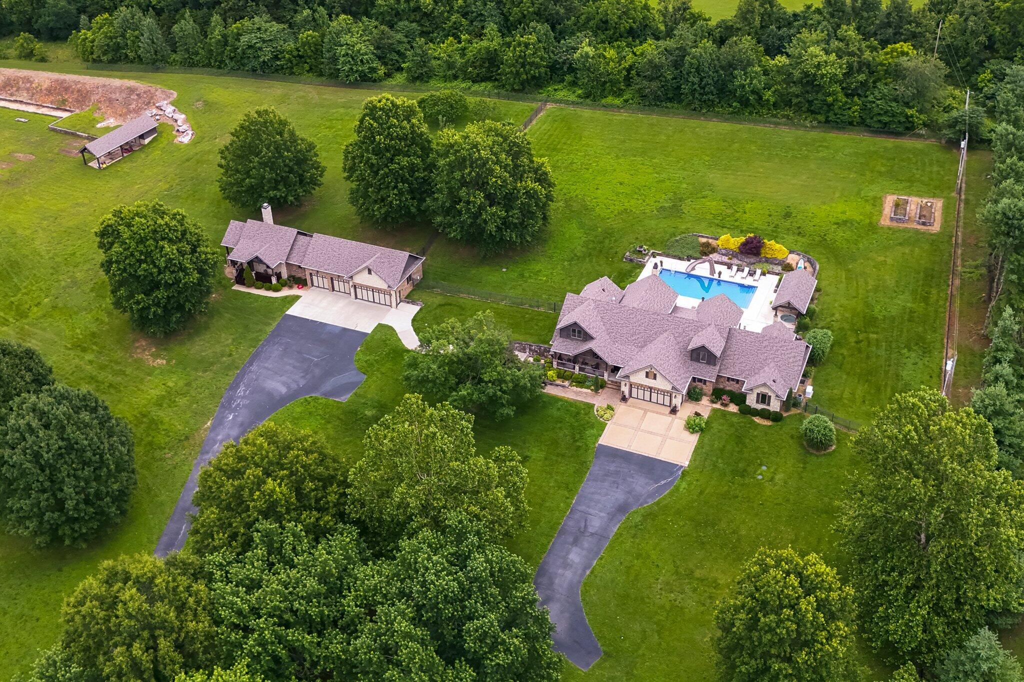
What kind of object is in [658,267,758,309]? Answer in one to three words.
swimming pool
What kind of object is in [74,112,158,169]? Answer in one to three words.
shed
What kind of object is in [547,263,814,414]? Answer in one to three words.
house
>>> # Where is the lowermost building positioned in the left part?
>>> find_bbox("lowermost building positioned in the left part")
[220,198,426,308]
